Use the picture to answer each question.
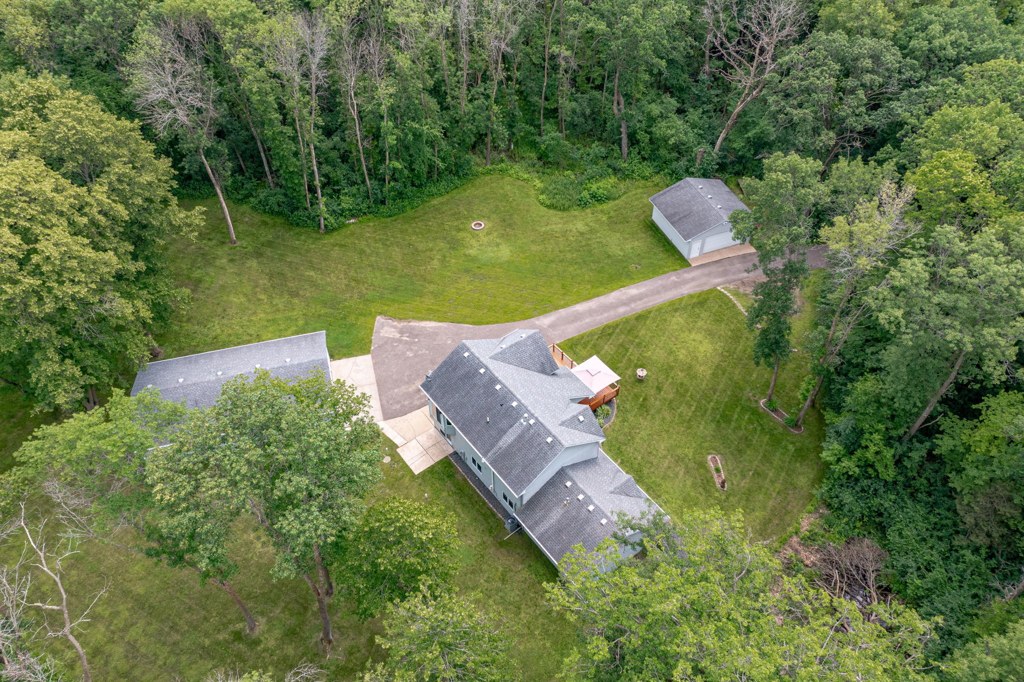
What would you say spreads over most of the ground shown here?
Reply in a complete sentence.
For the most part, this view shows trees.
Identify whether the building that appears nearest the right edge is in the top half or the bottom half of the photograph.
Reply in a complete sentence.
The building that appears nearest the right edge is in the top half of the image.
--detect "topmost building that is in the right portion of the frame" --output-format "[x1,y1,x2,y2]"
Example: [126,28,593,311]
[648,178,761,258]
